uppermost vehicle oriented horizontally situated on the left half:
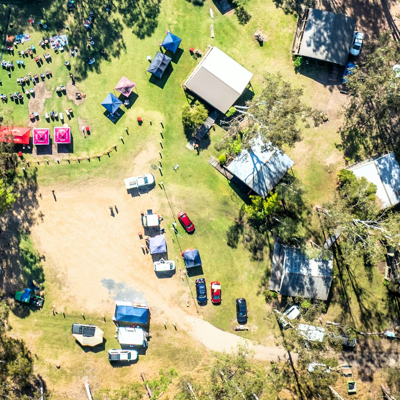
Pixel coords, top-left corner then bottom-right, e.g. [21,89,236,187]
[126,174,153,189]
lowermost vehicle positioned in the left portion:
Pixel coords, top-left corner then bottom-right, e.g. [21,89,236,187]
[110,349,136,362]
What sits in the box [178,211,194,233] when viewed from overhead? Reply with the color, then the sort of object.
red car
